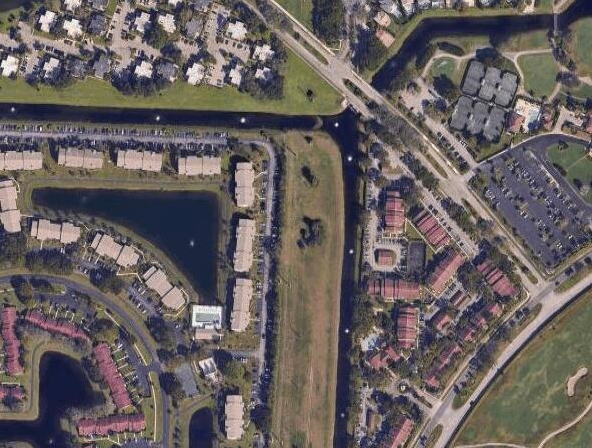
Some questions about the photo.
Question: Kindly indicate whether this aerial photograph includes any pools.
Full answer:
Yes, the image includes a pool.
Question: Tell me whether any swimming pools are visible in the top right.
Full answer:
Yes, a swimming pool can be seen in the top right.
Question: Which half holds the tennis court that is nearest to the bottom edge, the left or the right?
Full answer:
The tennis court that is nearest to the bottom edge is on the left side of the image.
